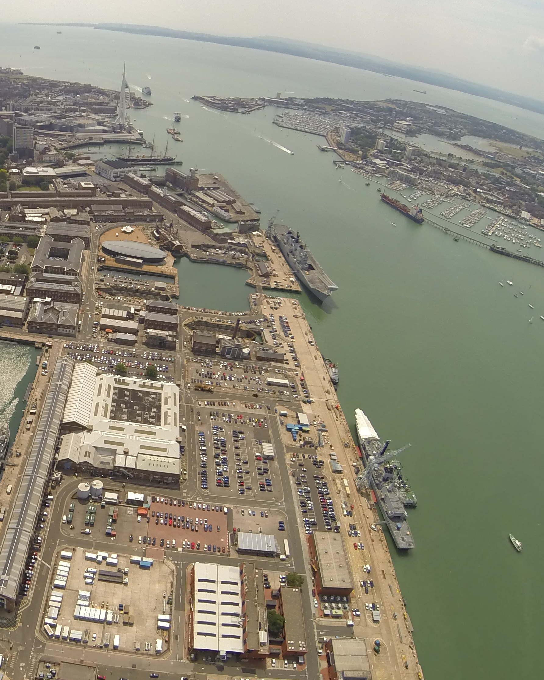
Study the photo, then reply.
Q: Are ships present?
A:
Yes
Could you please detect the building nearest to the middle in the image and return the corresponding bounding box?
[254,346,284,363]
